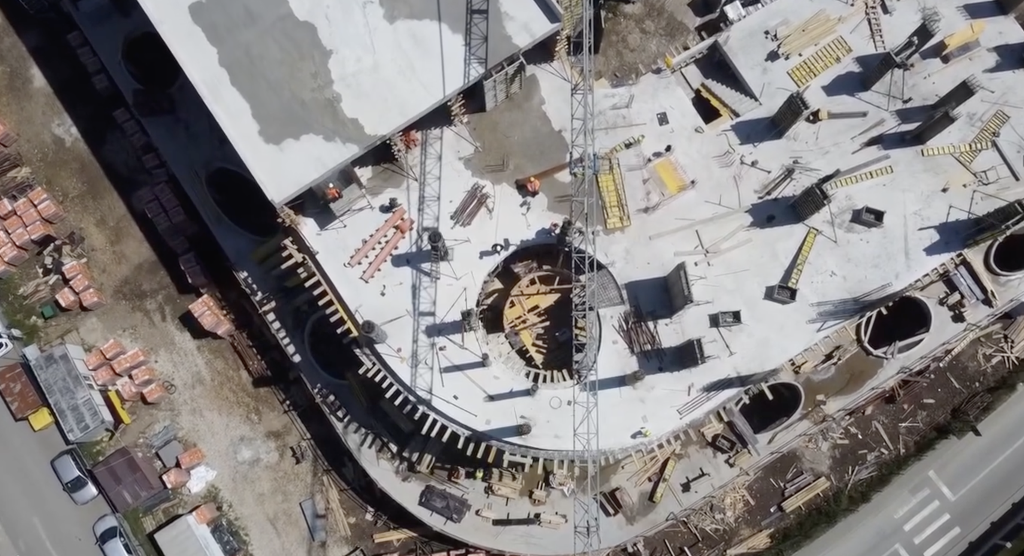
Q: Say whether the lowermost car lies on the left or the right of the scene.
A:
left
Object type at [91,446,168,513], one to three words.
shed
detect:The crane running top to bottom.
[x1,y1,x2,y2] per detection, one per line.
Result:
[571,0,600,556]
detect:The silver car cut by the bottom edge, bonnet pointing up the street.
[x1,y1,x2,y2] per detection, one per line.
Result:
[94,515,144,556]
